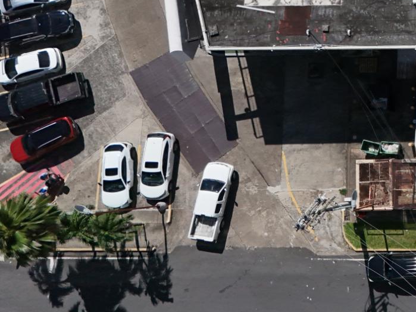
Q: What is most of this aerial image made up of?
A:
paved ground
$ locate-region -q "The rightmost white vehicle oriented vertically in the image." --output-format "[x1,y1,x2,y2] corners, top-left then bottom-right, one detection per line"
[188,161,236,246]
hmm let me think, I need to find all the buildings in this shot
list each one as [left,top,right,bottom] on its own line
[165,0,416,64]
[356,161,416,208]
